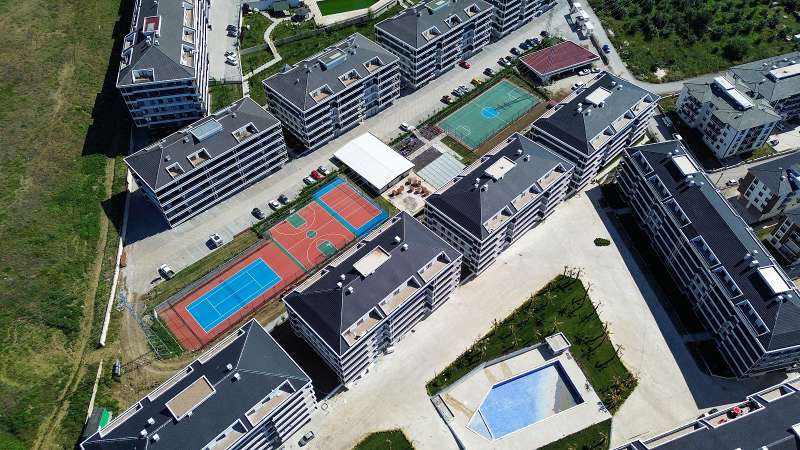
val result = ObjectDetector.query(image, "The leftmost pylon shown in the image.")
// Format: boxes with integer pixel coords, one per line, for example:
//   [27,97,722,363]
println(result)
[120,290,171,362]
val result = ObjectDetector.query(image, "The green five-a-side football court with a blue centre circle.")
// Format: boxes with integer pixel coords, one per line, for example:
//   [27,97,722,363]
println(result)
[436,79,544,150]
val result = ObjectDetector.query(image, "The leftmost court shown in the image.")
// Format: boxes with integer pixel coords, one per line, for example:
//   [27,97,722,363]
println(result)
[158,238,305,354]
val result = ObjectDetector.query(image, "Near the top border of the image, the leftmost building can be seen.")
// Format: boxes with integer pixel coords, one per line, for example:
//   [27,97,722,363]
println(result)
[116,0,212,123]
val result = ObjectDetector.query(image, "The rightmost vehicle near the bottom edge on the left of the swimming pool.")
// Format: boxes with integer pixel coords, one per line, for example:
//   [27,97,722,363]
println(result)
[298,427,314,449]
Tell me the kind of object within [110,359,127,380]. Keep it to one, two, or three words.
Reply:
vehicle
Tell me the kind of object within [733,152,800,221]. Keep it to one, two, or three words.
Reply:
house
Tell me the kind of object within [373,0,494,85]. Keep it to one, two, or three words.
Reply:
building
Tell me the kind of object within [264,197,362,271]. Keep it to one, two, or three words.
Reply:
basketball court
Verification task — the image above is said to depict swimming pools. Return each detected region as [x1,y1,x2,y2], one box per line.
[431,341,612,450]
